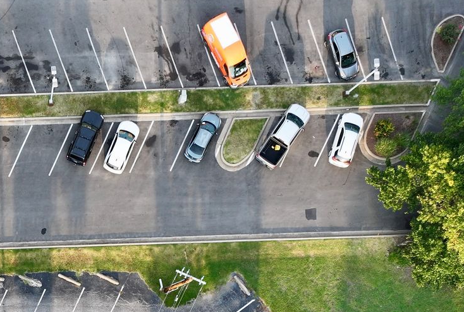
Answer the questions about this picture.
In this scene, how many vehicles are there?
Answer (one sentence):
My tally gives 7 vehicles in this view.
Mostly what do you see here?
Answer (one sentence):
The bulk of the photo consists of paved ground.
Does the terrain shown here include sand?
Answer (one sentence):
No, sand can't be seen anywhere here.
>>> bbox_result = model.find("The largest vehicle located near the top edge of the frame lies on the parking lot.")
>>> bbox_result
[199,9,248,88]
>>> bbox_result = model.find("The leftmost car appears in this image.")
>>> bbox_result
[66,109,102,166]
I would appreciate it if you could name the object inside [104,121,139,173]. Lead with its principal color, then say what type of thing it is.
white car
